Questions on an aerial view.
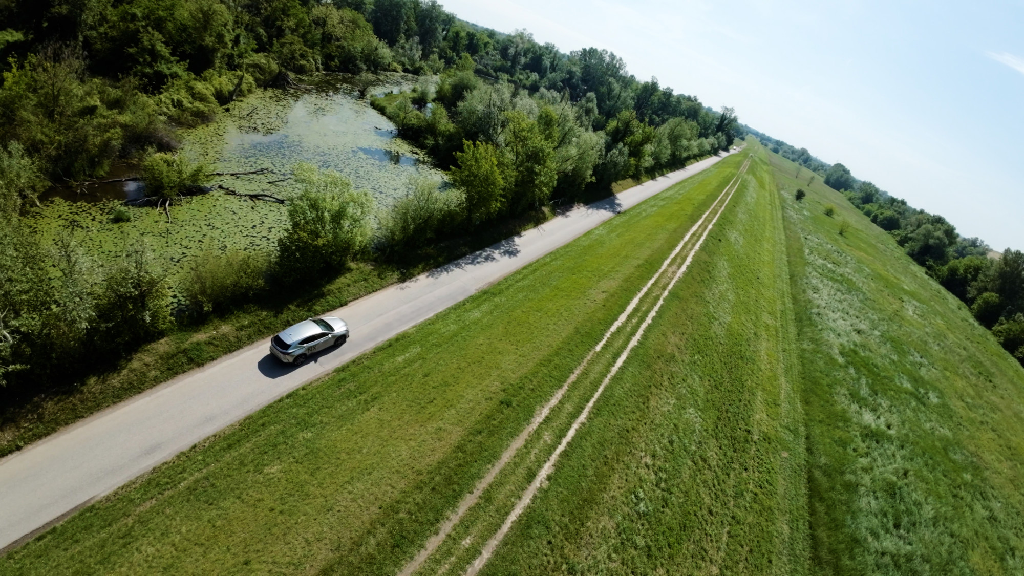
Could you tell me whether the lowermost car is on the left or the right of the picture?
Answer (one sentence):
The lowermost car sits on the left side.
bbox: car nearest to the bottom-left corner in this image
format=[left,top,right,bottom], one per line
[266,316,350,366]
